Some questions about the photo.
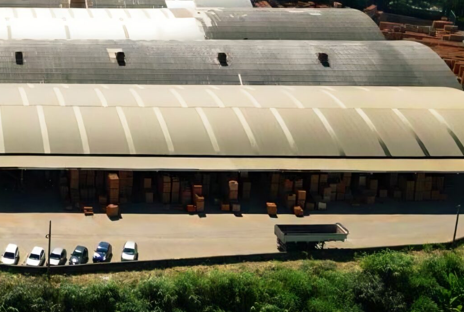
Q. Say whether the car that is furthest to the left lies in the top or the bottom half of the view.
bottom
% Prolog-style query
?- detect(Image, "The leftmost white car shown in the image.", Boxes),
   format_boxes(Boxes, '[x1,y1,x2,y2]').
[0,245,20,267]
